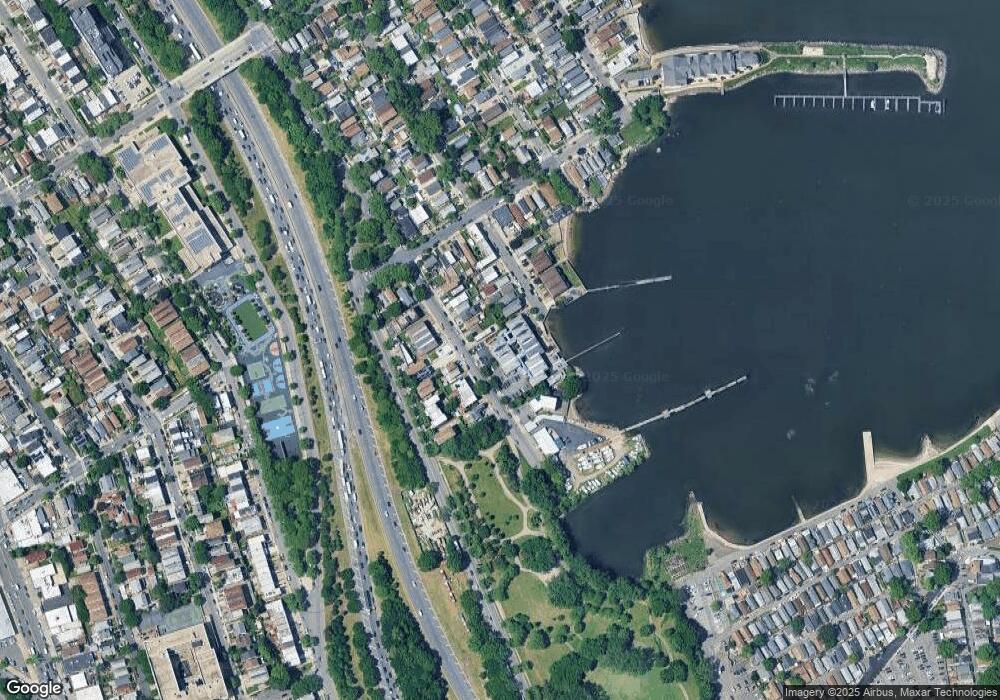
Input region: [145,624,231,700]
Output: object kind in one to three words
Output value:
building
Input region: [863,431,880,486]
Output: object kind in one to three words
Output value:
pier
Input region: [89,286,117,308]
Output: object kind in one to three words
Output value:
house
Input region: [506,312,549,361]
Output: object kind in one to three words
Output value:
shed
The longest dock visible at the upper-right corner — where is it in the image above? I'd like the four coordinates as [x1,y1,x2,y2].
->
[774,96,944,115]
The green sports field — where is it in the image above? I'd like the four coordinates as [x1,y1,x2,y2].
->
[234,300,268,340]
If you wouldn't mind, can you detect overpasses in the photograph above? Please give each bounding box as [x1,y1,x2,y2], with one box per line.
[175,33,259,94]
